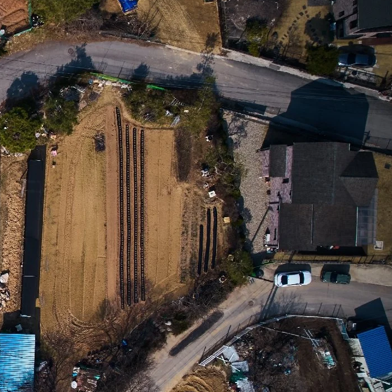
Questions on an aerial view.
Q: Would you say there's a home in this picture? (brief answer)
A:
Yes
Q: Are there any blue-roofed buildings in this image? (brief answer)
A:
Yes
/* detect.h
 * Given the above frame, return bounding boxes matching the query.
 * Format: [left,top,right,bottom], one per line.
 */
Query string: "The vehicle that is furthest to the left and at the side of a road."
[276,270,316,289]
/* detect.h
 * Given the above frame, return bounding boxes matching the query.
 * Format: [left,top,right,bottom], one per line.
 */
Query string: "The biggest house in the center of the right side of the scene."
[265,143,379,252]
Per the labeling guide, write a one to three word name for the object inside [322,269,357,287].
car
